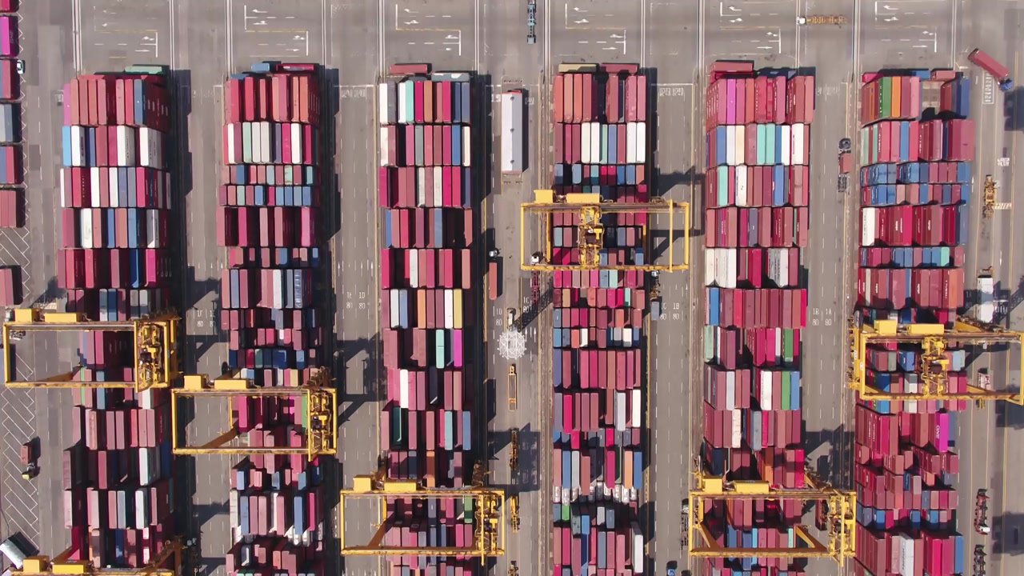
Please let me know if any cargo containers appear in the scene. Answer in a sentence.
Yes, the image includes a cargo container.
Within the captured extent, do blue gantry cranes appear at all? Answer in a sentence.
No, there is no blue gantry crane in the image.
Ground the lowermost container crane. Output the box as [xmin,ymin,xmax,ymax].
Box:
[12,534,193,576]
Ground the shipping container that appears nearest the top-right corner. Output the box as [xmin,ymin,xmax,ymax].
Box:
[967,49,1007,80]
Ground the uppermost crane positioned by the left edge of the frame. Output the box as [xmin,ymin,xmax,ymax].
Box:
[6,308,189,397]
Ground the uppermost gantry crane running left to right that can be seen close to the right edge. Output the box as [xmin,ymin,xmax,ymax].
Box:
[848,310,1024,409]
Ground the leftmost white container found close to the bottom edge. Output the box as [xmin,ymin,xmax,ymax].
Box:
[0,540,27,565]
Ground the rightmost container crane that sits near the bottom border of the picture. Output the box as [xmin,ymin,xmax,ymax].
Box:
[685,454,853,572]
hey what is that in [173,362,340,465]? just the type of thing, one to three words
container crane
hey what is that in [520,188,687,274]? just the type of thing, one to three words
container crane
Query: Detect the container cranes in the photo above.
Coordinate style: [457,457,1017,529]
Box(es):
[520,188,687,274]
[12,534,193,576]
[685,454,853,572]
[340,453,504,570]
[848,310,1024,409]
[173,362,340,465]
[6,308,189,397]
